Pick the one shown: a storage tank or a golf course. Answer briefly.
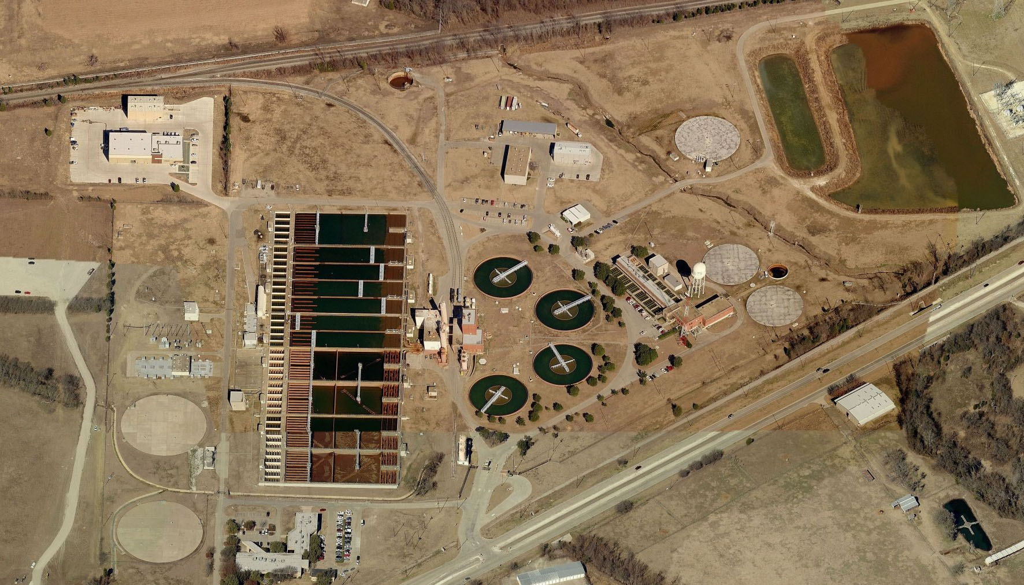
storage tank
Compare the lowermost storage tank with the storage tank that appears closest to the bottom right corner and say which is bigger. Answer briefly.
the lowermost storage tank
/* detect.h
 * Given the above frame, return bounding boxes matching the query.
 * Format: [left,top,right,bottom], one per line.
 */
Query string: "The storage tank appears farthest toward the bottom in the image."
[117,501,203,564]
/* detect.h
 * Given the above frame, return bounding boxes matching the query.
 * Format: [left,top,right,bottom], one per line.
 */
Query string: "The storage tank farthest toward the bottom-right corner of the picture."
[747,286,803,327]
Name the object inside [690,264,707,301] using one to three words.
water tower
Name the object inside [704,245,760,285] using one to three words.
storage tank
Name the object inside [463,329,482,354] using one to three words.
building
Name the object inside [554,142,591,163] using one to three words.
building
